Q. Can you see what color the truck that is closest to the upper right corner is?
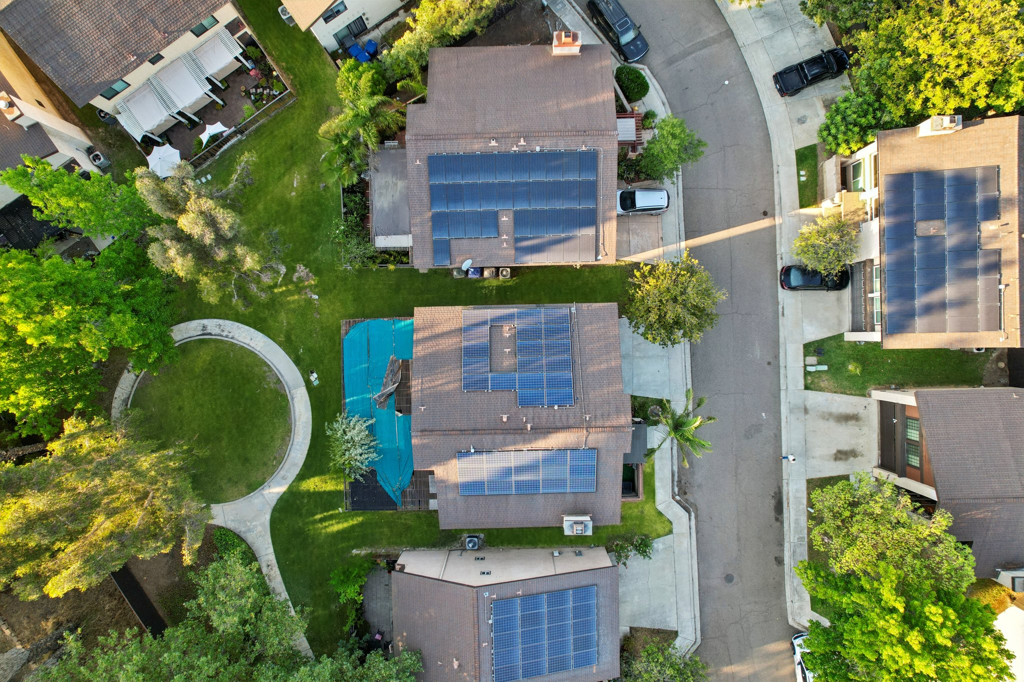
black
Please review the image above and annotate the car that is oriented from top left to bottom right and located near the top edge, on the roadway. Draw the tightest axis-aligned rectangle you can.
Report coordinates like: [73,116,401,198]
[591,0,646,62]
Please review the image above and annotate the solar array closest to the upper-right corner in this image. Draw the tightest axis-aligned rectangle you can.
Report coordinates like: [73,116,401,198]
[884,165,1005,341]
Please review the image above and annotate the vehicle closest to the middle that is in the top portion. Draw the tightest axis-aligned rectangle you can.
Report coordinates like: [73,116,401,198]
[617,184,670,218]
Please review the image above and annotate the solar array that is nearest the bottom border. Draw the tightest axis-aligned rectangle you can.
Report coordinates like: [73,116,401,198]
[484,586,597,682]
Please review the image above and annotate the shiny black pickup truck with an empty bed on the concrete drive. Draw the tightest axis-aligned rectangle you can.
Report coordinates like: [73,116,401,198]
[770,45,855,99]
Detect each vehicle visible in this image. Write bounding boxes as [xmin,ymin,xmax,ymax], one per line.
[789,631,820,682]
[770,45,855,99]
[781,260,851,294]
[617,184,670,218]
[591,0,646,62]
